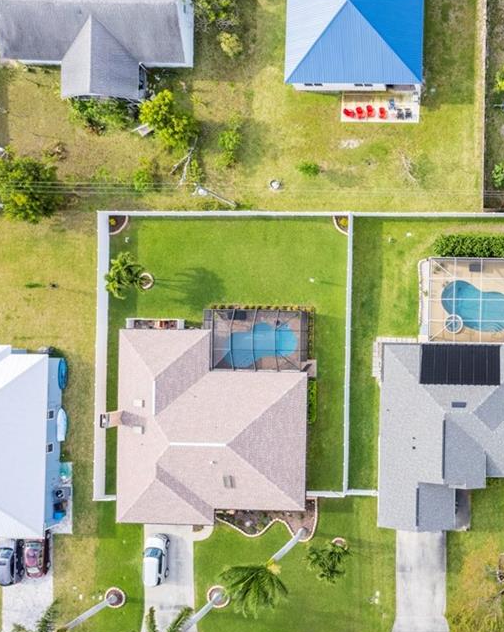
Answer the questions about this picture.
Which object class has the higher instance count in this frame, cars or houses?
houses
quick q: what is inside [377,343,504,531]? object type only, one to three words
house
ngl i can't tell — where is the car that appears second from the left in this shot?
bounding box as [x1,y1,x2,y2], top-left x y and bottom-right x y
[23,529,51,576]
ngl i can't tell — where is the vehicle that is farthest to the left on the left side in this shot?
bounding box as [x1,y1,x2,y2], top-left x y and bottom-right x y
[0,538,25,587]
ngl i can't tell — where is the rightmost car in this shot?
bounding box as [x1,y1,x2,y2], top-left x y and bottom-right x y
[142,533,170,585]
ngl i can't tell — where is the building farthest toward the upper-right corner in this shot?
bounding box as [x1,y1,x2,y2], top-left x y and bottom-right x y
[284,0,424,91]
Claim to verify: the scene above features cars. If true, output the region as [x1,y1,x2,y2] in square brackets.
[0,538,25,587]
[142,533,170,585]
[23,529,51,576]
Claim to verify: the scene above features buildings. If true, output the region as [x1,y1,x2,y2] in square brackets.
[0,0,193,102]
[100,328,310,524]
[0,337,64,539]
[284,0,424,91]
[377,343,504,531]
